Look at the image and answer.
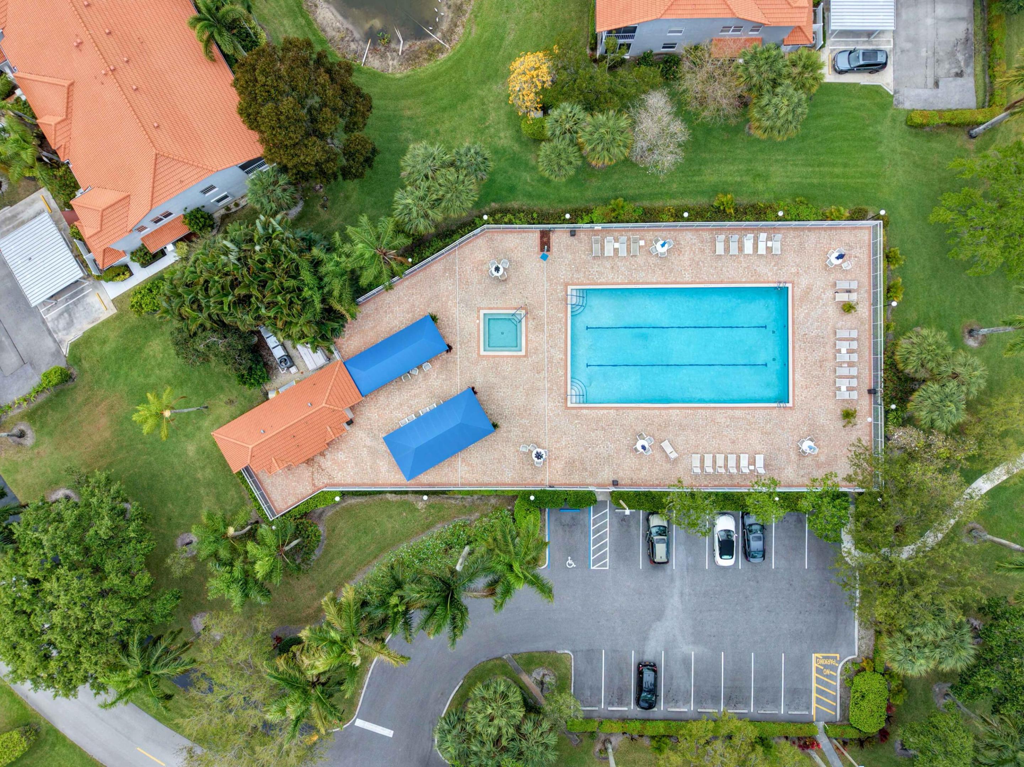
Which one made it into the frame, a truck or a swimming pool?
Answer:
swimming pool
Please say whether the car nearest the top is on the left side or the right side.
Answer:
right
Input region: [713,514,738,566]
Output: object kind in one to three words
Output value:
car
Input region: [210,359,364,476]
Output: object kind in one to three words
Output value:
building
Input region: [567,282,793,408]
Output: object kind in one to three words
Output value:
swimming pool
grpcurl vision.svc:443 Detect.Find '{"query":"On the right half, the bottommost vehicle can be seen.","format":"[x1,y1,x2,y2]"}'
[636,662,659,710]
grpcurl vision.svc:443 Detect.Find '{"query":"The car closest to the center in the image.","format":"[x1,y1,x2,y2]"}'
[639,514,672,566]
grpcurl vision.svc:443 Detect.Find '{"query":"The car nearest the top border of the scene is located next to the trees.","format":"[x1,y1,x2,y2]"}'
[832,47,888,76]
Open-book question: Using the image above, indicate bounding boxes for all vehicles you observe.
[713,514,738,566]
[832,47,888,76]
[636,662,659,710]
[639,514,672,566]
[742,513,768,564]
